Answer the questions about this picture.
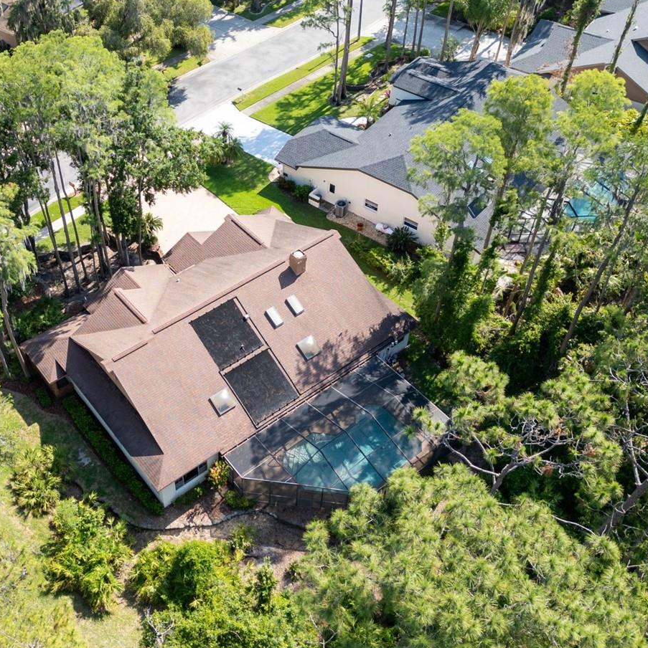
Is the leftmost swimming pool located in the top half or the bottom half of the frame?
bottom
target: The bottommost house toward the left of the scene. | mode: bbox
[21,205,416,507]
